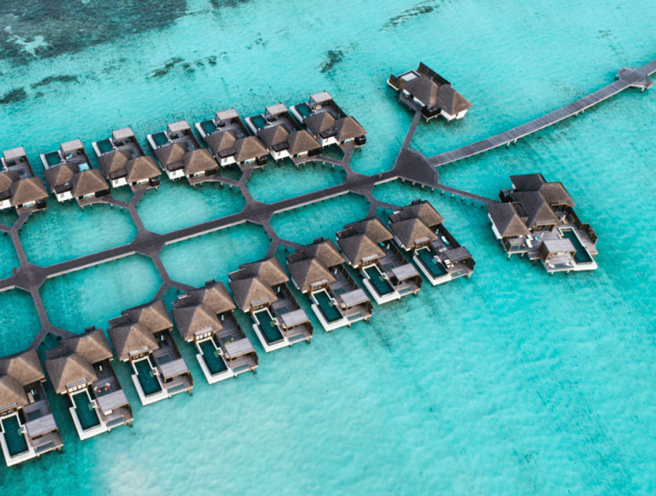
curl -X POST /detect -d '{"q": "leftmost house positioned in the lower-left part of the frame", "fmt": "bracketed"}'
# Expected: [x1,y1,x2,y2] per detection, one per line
[0,348,65,457]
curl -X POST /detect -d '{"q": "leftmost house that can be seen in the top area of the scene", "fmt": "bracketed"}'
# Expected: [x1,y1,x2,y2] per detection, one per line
[0,144,49,219]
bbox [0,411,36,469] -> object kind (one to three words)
swimming pool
